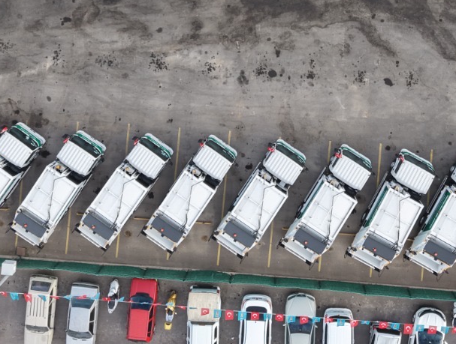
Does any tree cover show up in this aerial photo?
No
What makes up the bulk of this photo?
paved ground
